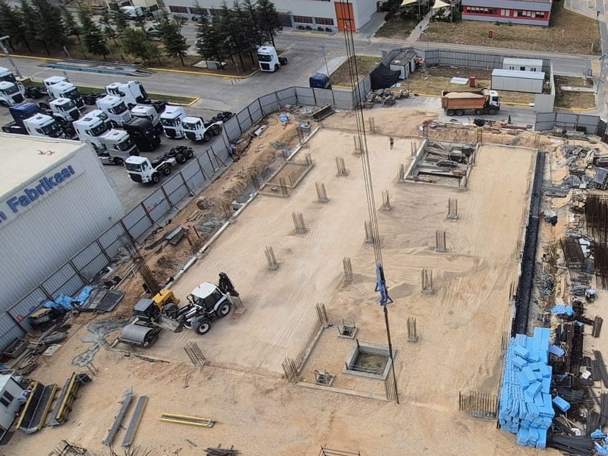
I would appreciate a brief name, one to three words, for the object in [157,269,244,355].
work vehicle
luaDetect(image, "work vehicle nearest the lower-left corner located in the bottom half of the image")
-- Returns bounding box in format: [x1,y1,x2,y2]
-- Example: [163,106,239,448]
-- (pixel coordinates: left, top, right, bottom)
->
[105,289,188,355]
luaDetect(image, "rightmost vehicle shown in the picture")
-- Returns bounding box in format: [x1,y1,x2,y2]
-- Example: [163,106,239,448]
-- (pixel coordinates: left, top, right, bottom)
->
[438,92,502,120]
